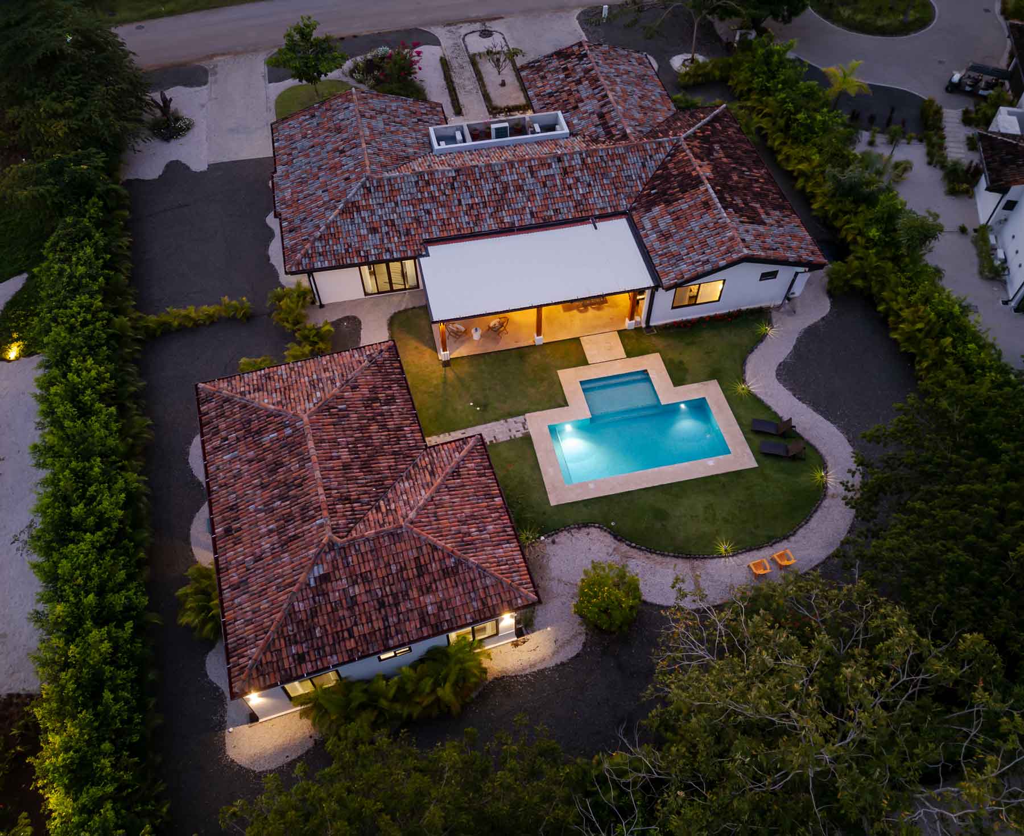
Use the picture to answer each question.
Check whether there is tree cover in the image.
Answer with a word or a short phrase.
Yes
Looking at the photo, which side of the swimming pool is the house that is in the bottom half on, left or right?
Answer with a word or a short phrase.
on the left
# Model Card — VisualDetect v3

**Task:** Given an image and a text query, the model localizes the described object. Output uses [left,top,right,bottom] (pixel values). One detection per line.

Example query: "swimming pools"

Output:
[526,352,758,504]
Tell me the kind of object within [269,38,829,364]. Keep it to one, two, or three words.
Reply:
house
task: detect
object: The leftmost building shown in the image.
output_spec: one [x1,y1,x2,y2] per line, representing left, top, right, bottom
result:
[192,337,545,725]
